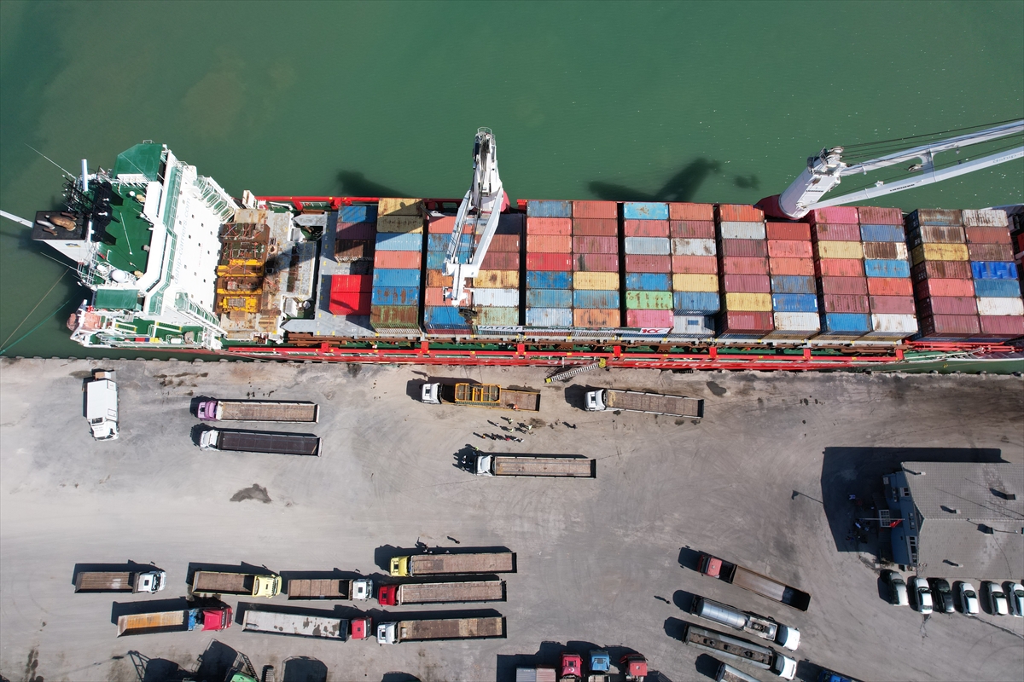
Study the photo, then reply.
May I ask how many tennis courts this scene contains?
0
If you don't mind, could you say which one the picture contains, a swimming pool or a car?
car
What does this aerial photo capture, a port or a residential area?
port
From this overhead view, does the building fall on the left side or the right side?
right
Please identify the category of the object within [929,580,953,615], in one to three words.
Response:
car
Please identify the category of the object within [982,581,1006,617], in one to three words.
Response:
car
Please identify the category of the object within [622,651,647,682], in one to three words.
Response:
truck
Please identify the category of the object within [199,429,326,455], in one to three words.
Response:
truck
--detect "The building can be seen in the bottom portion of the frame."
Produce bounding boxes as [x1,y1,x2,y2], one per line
[868,462,1024,582]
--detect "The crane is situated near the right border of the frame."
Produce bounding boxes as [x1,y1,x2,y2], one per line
[759,105,1024,222]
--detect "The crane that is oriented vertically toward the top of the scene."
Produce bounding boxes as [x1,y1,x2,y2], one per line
[444,136,519,346]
